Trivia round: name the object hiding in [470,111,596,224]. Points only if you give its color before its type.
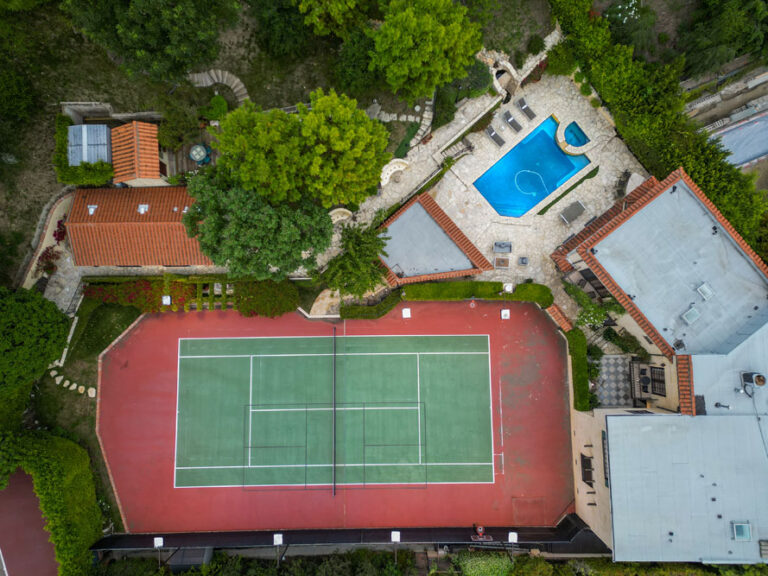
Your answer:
blue swimming pool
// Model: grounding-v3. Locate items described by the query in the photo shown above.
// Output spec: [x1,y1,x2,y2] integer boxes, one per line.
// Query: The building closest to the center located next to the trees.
[375,191,494,286]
